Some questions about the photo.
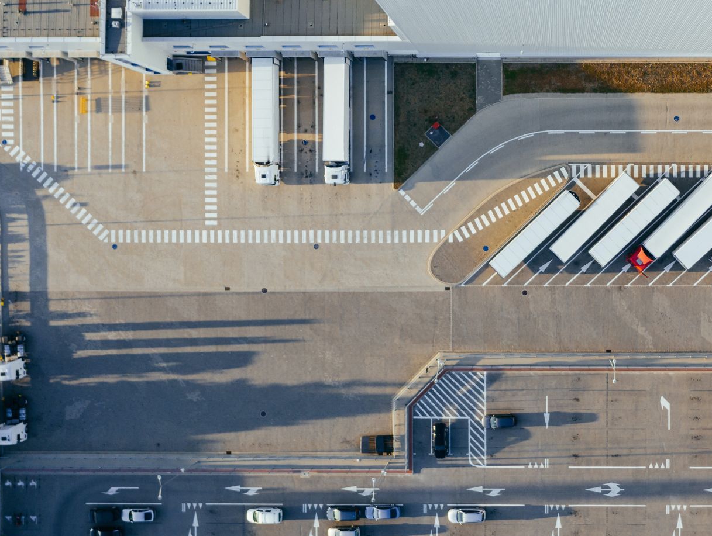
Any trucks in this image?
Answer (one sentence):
Yes, I can see a truck in this picture.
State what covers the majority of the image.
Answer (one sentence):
Most of the picture is covered by paved ground.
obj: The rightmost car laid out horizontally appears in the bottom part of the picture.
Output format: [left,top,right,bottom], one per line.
[484,412,517,429]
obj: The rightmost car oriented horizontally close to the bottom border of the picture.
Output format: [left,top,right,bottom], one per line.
[448,506,486,524]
